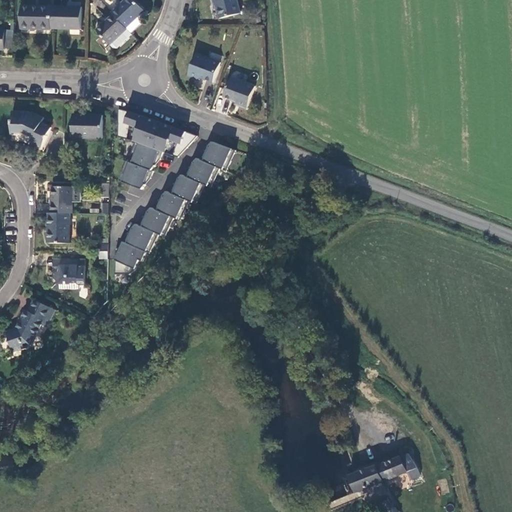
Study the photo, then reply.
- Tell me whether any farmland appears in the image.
Yes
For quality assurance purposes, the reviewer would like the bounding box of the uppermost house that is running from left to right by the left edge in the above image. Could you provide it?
[18,7,86,30]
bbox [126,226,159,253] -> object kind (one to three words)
house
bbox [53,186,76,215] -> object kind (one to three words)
house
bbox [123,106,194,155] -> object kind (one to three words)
building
